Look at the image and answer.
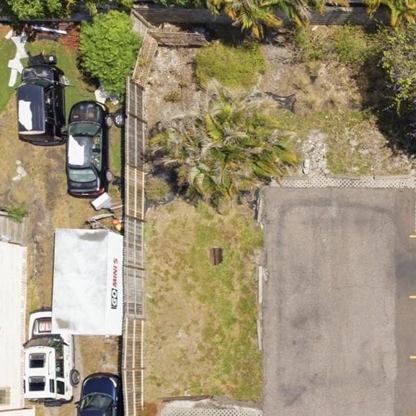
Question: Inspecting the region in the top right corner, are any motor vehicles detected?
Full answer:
No, I can find no motor vehicle in the top right corner.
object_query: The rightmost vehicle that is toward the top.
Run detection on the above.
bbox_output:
[54,101,109,198]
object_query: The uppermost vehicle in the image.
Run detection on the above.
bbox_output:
[9,53,64,148]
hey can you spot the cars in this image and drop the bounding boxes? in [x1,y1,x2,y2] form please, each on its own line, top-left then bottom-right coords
[17,308,78,410]
[71,369,125,416]
[54,101,109,198]
[9,53,64,148]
